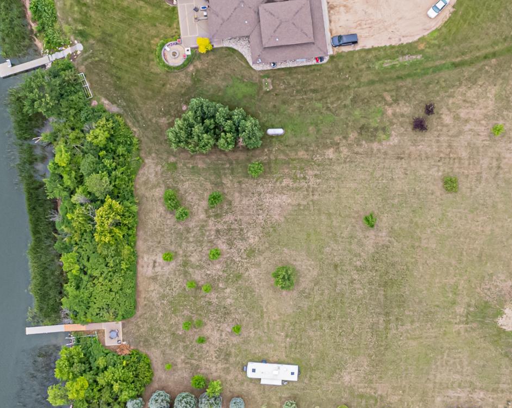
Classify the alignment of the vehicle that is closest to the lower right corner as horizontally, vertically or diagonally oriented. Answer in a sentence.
The vehicle that is closest to the lower right corner is oriented horizontally.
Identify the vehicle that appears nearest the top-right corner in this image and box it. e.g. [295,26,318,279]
[427,0,450,19]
